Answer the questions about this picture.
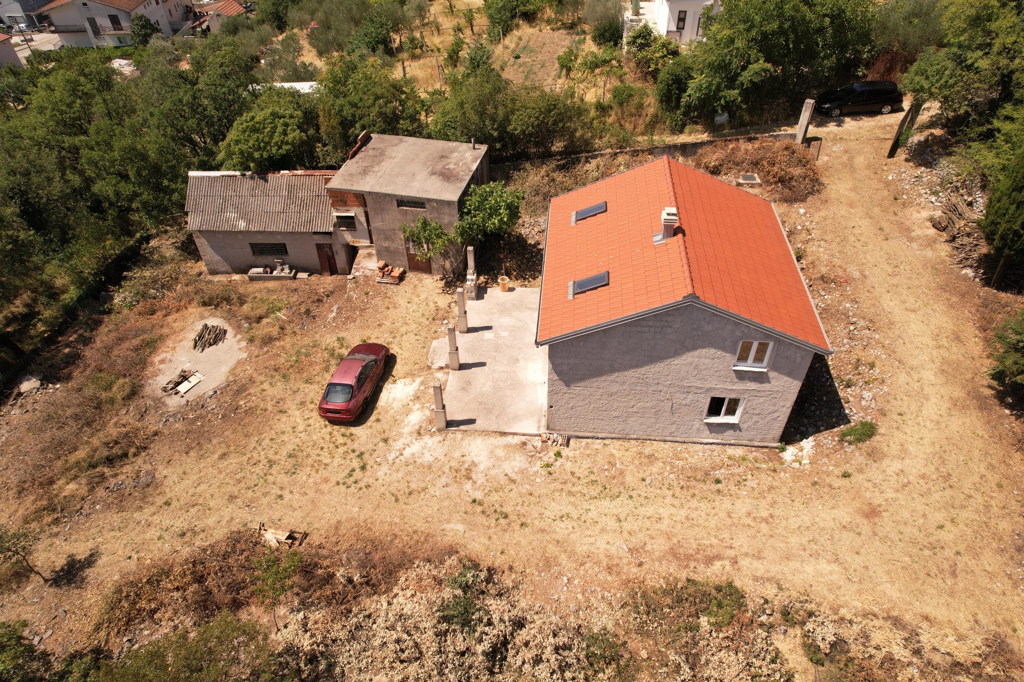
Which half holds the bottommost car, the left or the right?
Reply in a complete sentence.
You can find the bottommost car on the left side of the picture.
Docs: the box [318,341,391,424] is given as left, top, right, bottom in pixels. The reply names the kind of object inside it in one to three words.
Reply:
car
